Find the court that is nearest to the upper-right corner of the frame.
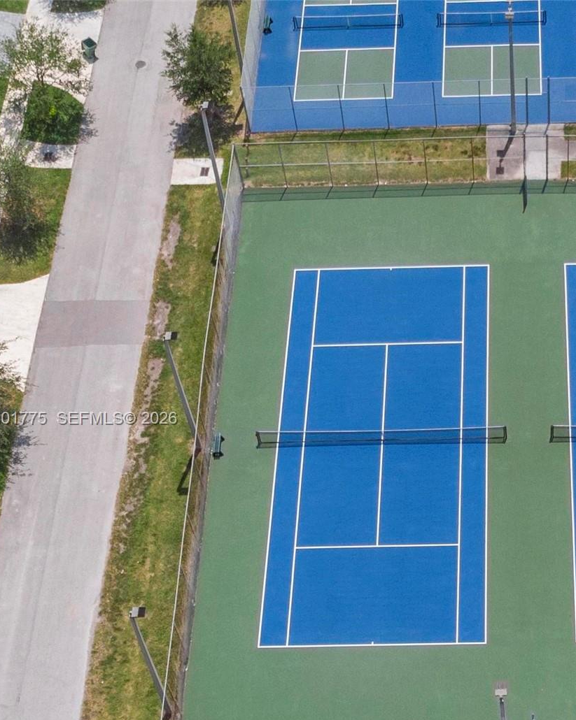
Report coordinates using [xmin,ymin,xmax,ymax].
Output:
[443,0,542,96]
